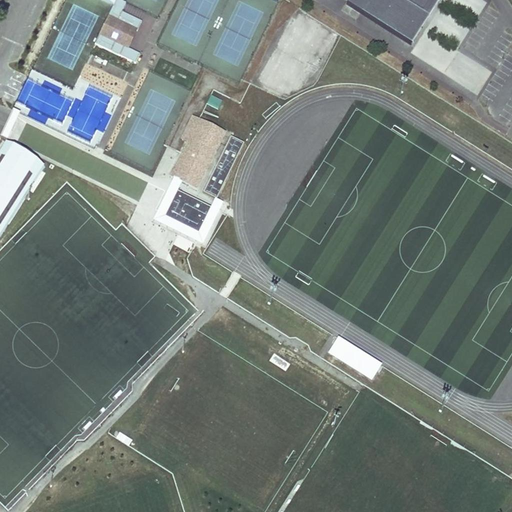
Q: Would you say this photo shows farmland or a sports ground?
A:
sports ground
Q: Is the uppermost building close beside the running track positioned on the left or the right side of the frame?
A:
right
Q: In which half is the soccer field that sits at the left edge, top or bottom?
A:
bottom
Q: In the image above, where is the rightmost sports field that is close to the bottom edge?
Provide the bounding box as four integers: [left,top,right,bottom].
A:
[114,332,328,512]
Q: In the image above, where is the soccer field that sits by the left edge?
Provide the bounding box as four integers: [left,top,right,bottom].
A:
[0,182,197,507]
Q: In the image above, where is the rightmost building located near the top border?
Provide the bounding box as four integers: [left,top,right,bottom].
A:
[338,0,440,48]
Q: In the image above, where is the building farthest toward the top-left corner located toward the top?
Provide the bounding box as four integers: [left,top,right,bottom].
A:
[96,0,142,64]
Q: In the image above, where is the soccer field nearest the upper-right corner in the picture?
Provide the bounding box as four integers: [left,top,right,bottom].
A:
[258,100,512,398]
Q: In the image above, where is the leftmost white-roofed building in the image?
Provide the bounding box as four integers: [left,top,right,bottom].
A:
[0,142,46,240]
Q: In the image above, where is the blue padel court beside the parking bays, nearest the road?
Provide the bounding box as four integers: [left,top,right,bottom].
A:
[18,76,72,124]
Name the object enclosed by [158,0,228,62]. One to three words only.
tennis court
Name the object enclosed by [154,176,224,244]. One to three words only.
building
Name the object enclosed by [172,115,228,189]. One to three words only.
building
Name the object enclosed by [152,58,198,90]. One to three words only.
sports court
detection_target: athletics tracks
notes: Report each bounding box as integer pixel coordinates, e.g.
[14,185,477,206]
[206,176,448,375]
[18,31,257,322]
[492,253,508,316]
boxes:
[192,84,512,446]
